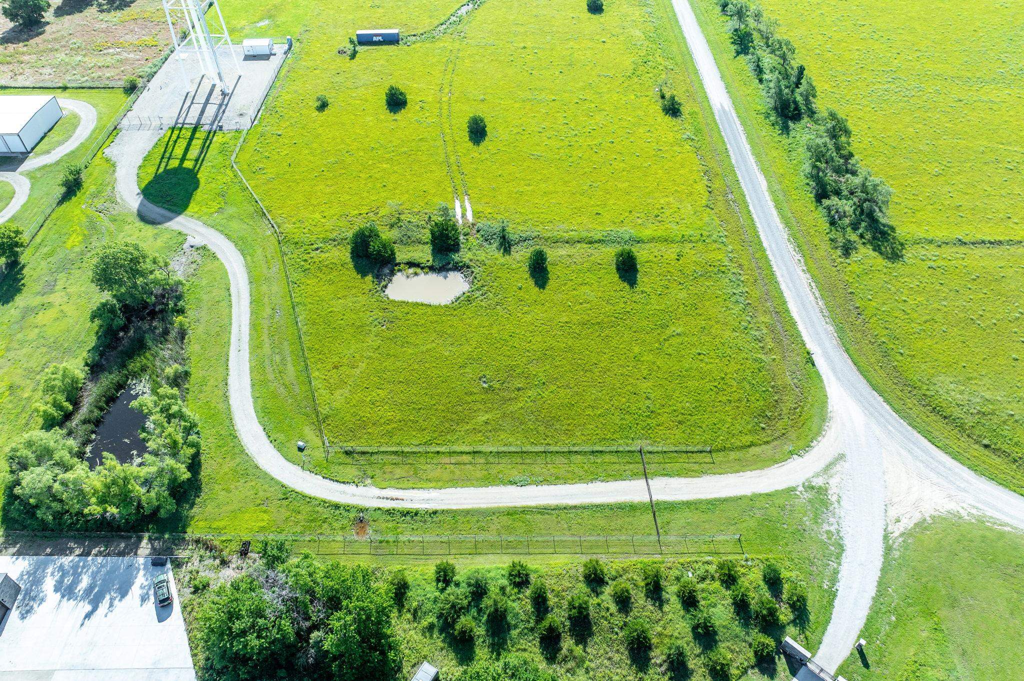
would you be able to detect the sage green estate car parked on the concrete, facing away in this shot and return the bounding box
[152,570,176,611]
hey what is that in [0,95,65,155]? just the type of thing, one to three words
barn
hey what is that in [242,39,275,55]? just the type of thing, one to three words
shed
